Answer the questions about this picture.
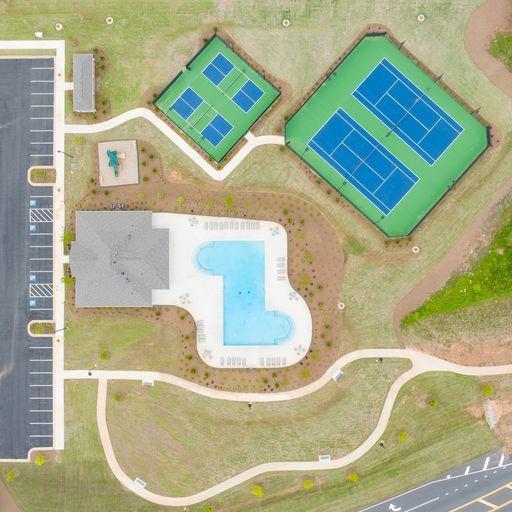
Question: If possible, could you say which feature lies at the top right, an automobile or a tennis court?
tennis court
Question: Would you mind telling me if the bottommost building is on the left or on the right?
left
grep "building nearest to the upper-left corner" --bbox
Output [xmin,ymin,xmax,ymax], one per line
[72,54,96,114]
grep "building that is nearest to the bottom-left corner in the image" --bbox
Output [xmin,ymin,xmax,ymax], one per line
[68,211,170,306]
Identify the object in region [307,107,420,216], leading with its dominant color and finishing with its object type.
blue tennis court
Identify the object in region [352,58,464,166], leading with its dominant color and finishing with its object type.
blue tennis court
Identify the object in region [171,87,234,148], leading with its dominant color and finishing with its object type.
blue sports court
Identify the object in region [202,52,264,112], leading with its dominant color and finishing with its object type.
blue sports court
